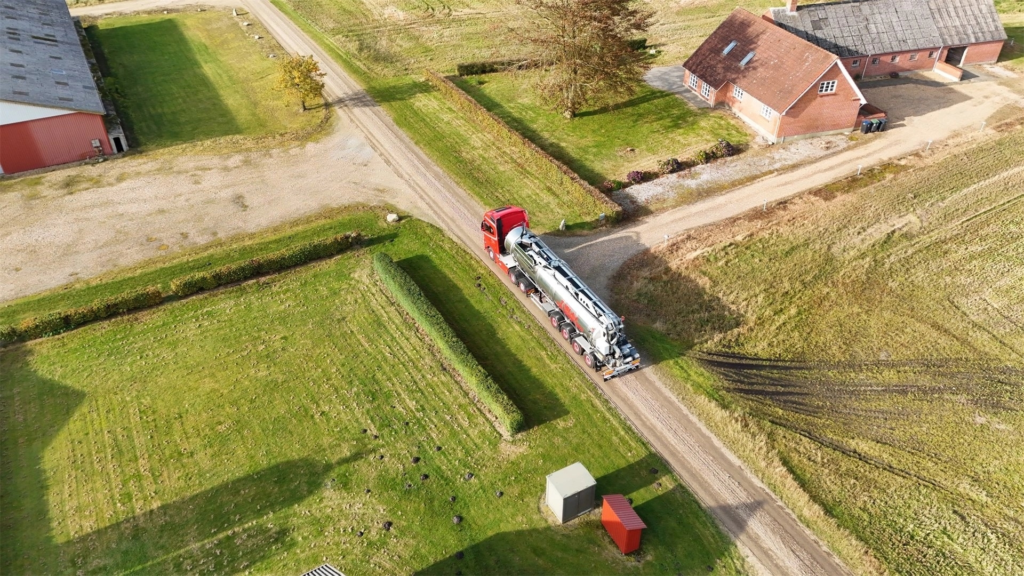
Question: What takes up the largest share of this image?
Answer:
grass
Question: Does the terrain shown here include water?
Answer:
No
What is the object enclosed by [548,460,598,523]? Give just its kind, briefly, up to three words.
shed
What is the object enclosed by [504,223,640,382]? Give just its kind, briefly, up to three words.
trailer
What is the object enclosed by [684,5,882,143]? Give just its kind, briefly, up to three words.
house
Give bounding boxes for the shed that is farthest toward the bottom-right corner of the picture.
[602,494,645,554]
